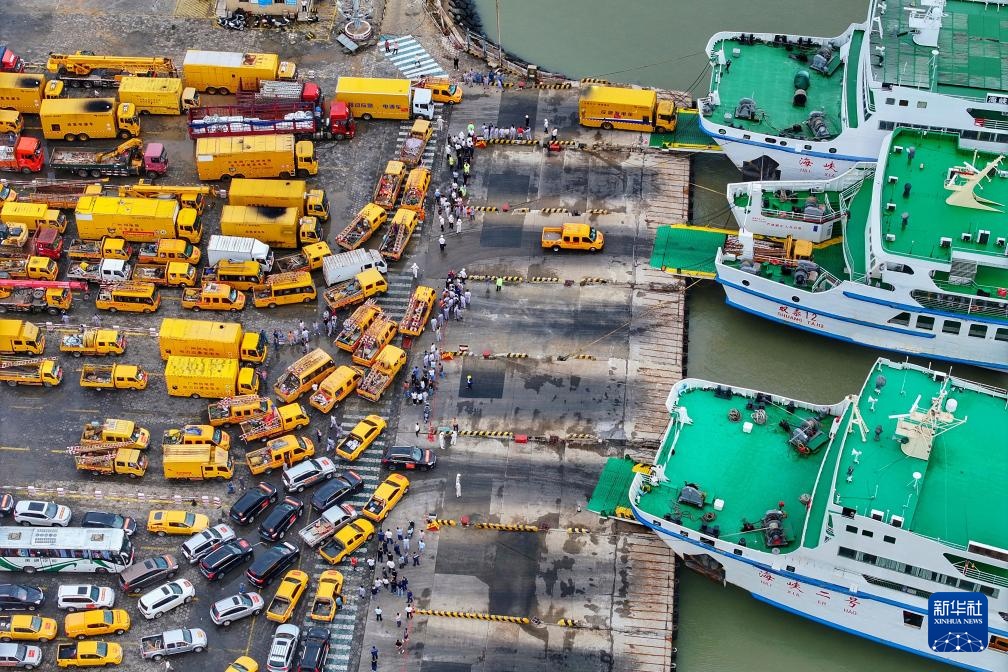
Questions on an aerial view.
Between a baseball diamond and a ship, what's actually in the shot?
ship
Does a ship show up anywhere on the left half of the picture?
No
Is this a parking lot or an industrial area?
parking lot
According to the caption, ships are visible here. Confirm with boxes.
[650,127,1008,385]
[651,0,1008,184]
[588,355,1008,672]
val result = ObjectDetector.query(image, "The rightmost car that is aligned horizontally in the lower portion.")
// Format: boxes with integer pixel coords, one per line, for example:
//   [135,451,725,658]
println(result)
[382,445,439,474]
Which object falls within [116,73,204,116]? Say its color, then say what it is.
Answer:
yellow truck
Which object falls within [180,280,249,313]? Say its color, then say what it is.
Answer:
orange van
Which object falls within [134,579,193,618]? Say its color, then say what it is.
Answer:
white car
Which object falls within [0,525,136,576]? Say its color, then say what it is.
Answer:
white bus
